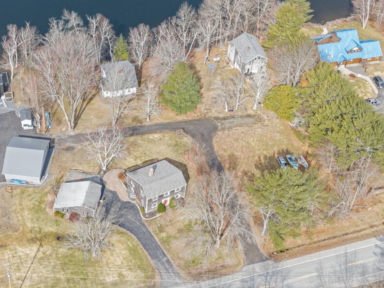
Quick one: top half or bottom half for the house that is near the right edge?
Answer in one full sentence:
The house that is near the right edge is in the top half of the image.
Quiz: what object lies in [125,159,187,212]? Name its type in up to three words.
house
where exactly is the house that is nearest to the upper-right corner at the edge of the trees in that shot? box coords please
[306,26,384,67]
